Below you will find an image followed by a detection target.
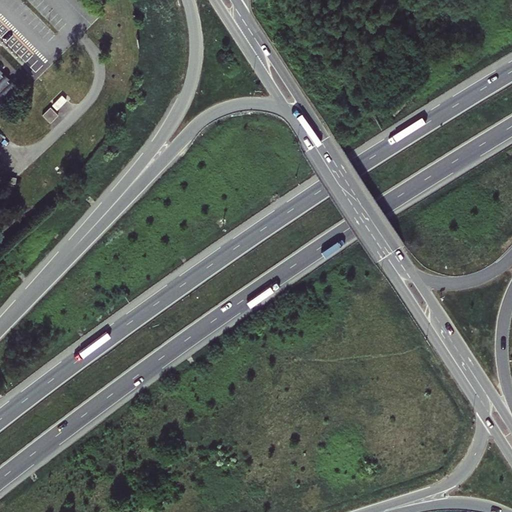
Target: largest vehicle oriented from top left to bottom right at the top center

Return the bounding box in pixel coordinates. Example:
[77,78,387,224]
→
[293,107,322,145]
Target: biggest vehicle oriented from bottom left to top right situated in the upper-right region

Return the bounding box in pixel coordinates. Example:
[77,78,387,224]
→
[388,116,427,144]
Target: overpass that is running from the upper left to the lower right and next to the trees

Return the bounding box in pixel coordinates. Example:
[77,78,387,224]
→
[306,136,404,262]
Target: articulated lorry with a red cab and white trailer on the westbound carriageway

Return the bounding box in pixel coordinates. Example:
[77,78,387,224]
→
[74,333,111,362]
